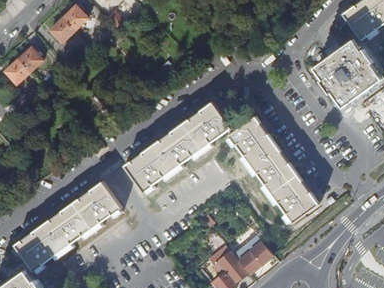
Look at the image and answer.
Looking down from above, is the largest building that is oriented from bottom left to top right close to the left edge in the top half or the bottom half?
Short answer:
bottom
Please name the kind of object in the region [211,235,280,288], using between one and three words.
house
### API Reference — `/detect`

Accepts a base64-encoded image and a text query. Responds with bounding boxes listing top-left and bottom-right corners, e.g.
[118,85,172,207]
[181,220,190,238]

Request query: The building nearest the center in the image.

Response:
[124,100,233,196]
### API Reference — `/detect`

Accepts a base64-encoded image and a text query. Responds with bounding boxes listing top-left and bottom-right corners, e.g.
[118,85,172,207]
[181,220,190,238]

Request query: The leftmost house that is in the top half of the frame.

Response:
[4,46,44,86]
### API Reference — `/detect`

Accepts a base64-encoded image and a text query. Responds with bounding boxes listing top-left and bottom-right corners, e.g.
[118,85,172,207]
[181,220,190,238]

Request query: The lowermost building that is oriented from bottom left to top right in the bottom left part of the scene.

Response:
[14,180,126,276]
